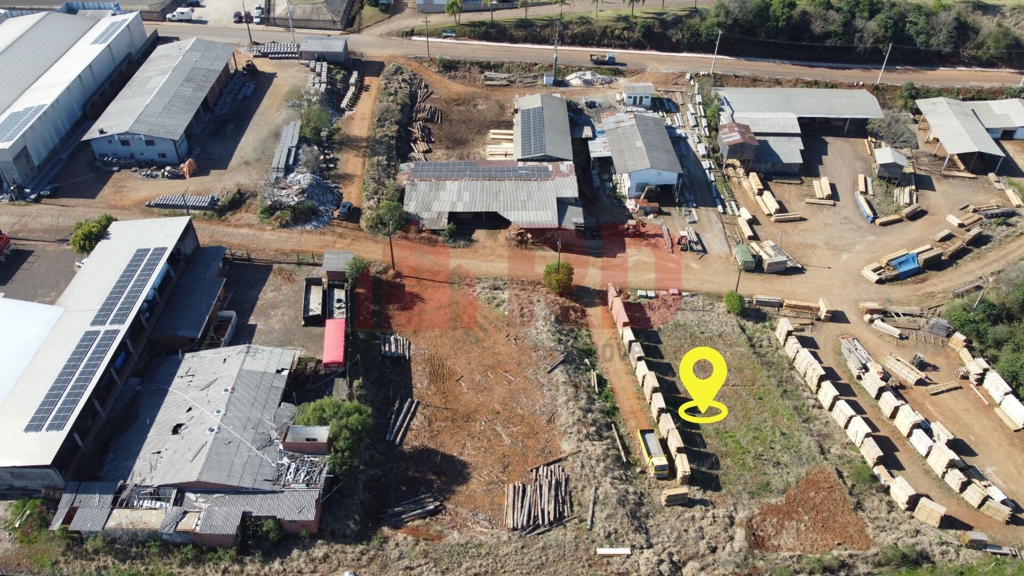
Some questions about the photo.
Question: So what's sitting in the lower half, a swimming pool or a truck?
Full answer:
Visible in the lower half is a truck.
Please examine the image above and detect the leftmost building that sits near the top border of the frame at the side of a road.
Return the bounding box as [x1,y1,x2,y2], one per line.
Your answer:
[0,0,146,187]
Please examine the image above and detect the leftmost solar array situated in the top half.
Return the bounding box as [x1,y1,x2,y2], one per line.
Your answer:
[0,104,47,146]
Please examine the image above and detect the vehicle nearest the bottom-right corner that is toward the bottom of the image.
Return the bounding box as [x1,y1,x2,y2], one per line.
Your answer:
[907,345,940,373]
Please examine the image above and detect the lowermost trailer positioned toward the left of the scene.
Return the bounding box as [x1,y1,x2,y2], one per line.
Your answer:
[323,319,349,381]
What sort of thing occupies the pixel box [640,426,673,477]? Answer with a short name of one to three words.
truck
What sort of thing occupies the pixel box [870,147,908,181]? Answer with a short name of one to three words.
shed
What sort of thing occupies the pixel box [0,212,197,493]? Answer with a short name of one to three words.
building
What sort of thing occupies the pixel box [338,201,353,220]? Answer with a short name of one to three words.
car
